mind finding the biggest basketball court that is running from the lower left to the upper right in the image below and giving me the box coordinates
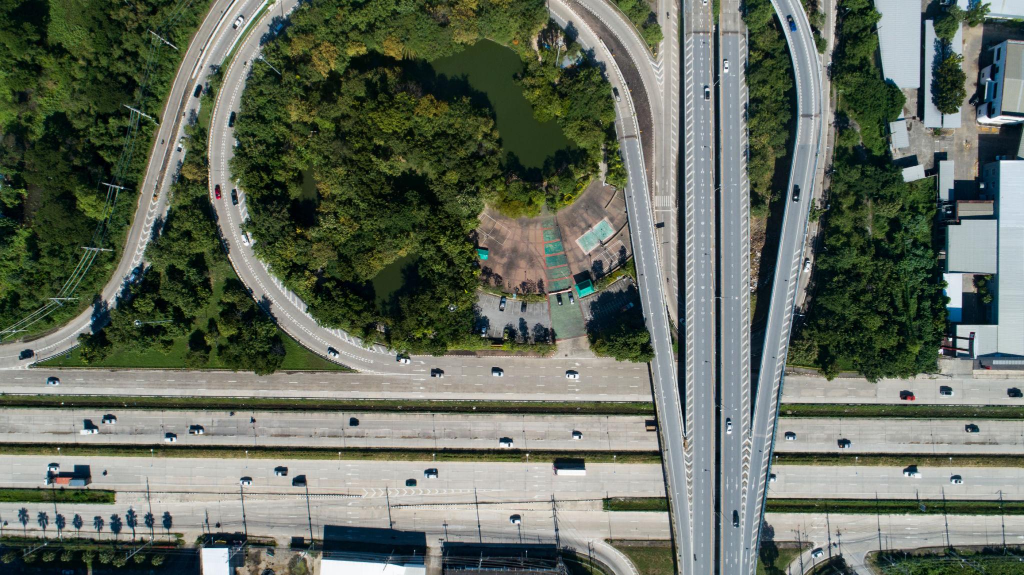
[576,217,616,254]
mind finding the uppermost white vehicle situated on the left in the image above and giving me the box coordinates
[232,15,245,29]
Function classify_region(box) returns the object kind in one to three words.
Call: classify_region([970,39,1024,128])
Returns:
building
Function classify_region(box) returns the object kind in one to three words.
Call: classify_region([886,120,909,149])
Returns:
shed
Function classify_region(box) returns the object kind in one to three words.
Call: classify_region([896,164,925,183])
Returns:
shed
